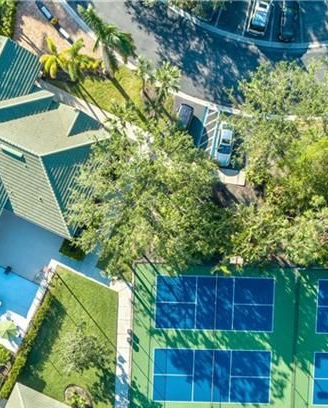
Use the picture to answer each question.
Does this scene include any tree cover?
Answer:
Yes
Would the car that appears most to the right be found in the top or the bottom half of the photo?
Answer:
top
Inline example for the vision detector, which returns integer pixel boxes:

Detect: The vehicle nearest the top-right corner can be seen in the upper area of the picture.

[277,0,299,44]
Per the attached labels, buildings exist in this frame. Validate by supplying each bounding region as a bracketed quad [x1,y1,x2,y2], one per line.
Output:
[5,381,73,408]
[0,34,111,239]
